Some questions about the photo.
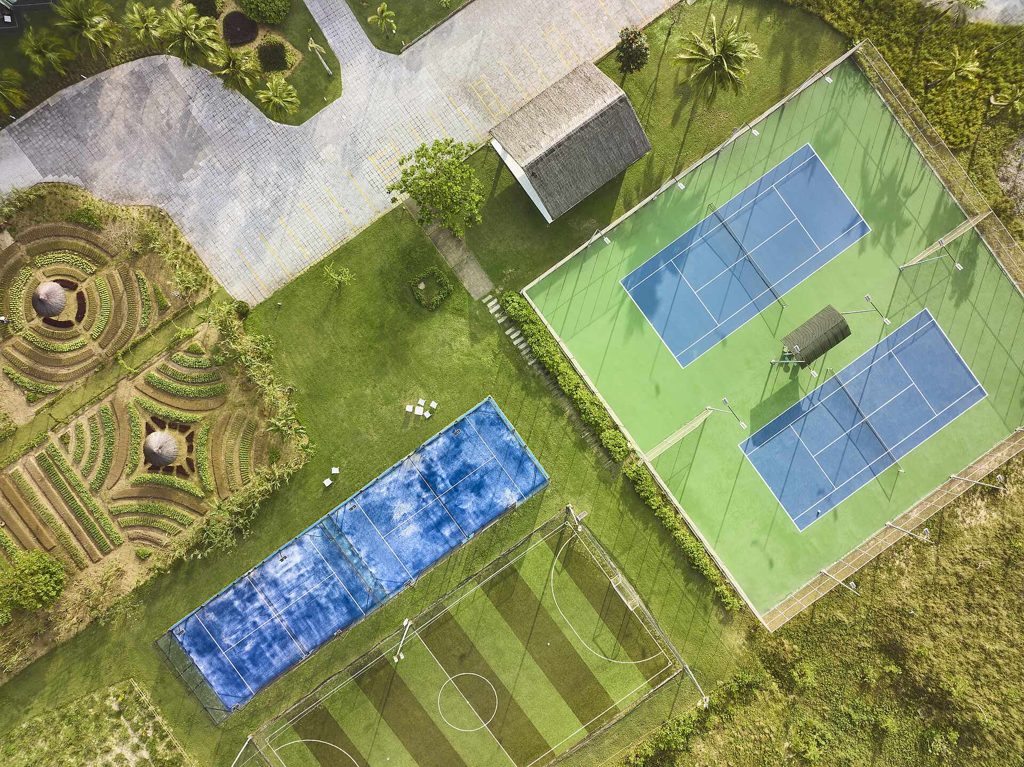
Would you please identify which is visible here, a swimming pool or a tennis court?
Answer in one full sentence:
There is a tennis court in the scene.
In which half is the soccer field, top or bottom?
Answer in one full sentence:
The soccer field sits in the bottom half of the picture.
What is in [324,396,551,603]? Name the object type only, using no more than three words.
sports court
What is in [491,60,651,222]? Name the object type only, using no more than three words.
building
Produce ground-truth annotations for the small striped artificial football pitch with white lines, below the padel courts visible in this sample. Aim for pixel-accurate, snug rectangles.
[251,505,684,767]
